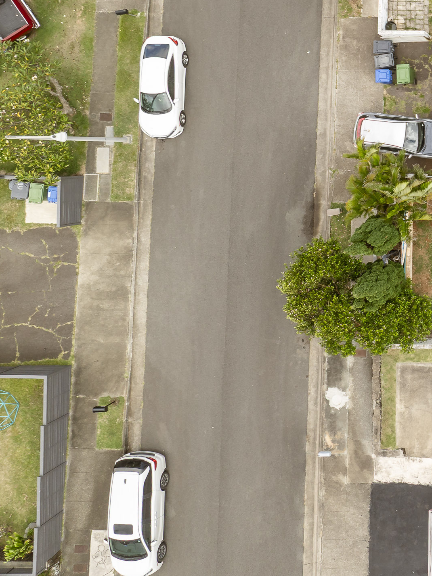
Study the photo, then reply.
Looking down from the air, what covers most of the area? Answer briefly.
paved ground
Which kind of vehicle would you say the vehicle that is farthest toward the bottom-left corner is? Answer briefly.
car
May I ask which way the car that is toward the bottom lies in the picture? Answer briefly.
vertically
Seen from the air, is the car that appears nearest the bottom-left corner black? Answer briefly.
No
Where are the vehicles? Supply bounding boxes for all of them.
[97,451,161,572]
[0,0,44,50]
[127,37,185,138]
[352,115,432,164]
